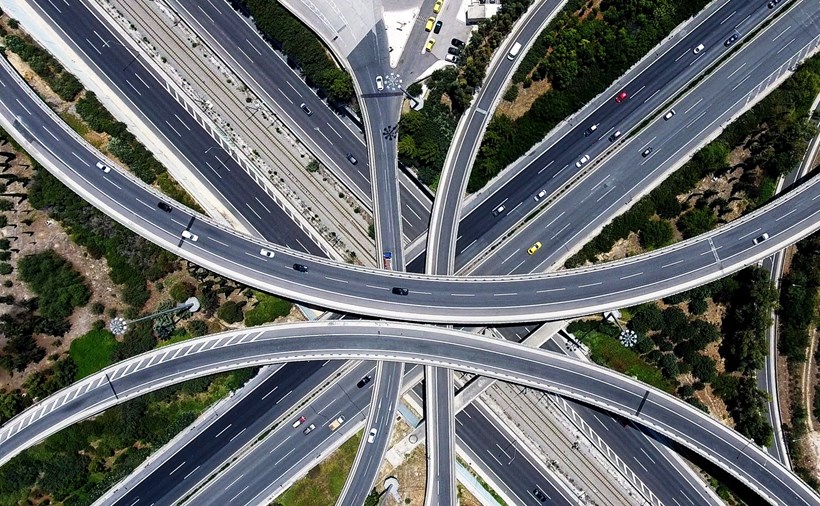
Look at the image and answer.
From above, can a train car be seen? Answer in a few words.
No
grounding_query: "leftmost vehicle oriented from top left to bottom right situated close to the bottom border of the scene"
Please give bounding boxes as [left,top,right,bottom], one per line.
[533,488,547,502]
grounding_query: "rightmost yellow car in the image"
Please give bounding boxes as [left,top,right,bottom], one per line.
[527,241,541,255]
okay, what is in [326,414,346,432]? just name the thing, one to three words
vehicle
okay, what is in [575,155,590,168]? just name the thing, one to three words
vehicle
